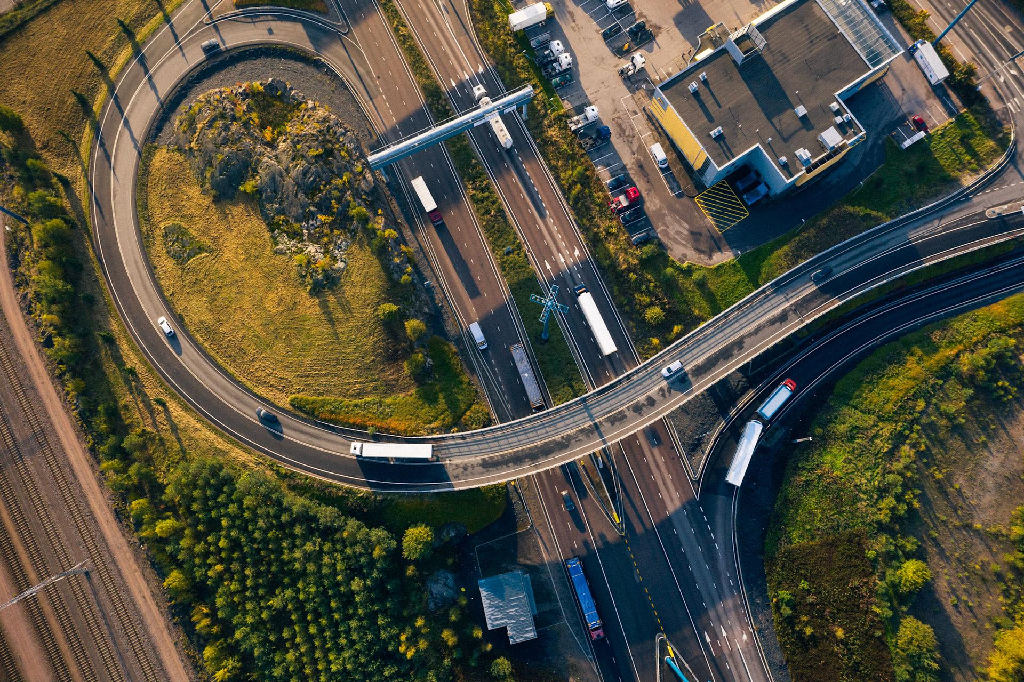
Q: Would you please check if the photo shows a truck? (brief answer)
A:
Yes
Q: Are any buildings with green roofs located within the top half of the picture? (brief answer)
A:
No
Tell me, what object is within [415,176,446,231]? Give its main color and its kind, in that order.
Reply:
white truck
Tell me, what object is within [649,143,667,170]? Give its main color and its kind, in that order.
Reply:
white vehicle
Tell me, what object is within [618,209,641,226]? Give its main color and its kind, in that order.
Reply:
black car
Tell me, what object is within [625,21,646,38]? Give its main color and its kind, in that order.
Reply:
black car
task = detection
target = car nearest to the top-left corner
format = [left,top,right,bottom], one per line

[201,41,222,54]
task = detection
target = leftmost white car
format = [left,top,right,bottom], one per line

[160,317,176,337]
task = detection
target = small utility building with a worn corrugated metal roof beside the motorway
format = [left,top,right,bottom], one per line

[477,570,538,644]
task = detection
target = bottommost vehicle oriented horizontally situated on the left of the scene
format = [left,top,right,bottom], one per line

[352,442,435,458]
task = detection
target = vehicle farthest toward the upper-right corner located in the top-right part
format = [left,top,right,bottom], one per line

[902,44,948,90]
